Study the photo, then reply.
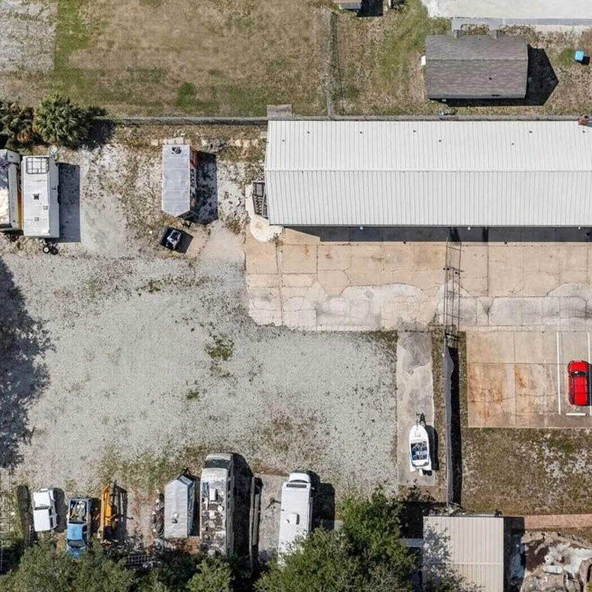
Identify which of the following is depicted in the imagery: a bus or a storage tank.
bus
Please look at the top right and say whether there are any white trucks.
No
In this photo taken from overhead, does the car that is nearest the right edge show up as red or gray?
red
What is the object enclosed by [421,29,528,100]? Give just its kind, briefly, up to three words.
house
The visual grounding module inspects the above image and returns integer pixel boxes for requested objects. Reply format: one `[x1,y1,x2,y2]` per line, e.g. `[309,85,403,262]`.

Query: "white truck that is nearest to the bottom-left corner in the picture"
[28,487,56,538]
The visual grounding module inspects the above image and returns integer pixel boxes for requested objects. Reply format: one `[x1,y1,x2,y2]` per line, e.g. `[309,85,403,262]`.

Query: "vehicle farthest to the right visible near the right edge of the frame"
[570,361,592,406]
